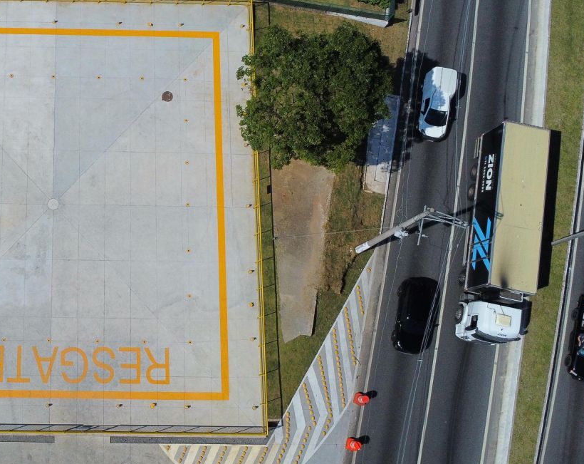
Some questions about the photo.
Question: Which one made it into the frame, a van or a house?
van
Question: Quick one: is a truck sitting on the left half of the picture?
No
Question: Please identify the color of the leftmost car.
black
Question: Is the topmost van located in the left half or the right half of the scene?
right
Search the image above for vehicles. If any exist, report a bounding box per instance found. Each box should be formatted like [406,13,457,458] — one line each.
[563,289,584,381]
[390,275,439,355]
[416,62,467,145]
[452,121,551,353]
